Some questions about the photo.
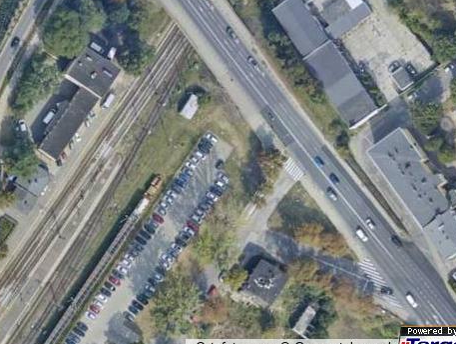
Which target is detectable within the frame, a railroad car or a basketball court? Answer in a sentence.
It is a railroad car that can be seen here.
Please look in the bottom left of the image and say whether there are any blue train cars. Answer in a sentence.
No, no blue train car appears in the bottom left of the image.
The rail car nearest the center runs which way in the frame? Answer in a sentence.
The rail car nearest the center runs at an angle in the image.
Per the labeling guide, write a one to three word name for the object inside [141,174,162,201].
rail car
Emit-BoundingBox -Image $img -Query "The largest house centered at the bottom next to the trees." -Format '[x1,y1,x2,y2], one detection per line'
[240,258,288,306]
